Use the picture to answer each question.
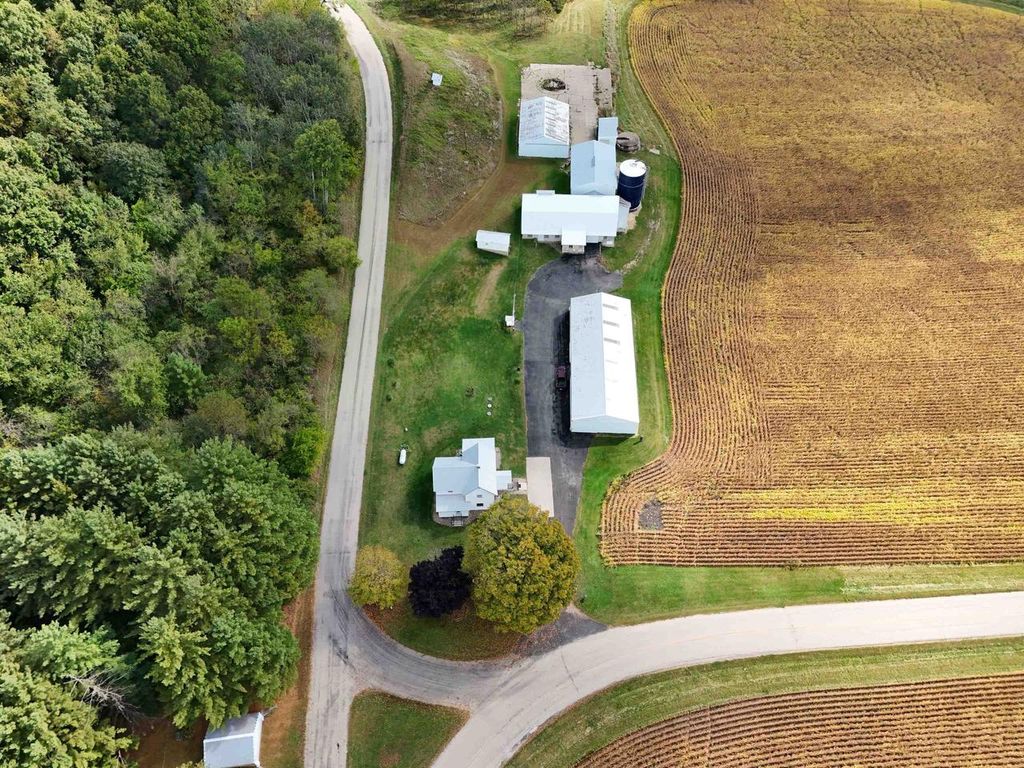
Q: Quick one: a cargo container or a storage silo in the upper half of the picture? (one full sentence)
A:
You can see a storage silo in the upper half of the picture.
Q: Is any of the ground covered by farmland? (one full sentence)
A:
Yes, farmland shows up in the scene.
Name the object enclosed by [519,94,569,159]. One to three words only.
barn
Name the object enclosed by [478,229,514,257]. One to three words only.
shed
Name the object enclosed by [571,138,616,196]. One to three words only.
barn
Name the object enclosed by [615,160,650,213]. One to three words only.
silo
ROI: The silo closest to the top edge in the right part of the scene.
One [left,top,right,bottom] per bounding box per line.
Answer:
[616,131,640,151]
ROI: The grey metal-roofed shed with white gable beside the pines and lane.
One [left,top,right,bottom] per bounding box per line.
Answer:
[204,713,261,768]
